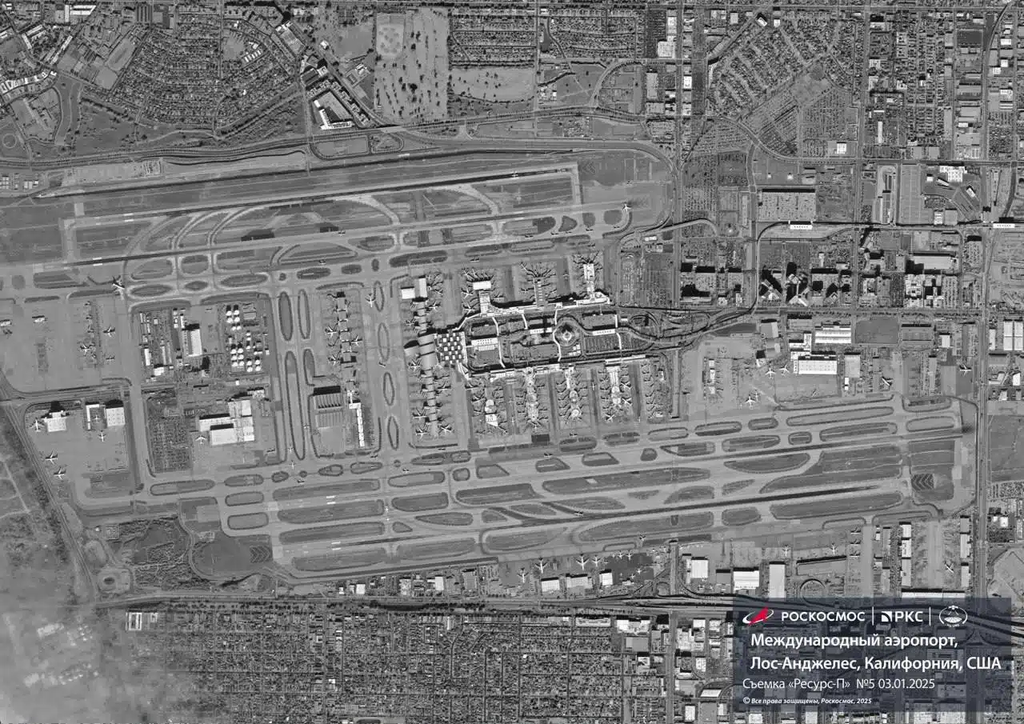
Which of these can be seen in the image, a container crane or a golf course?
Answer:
golf course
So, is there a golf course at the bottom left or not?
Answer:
No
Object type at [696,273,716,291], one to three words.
building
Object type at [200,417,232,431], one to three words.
hangar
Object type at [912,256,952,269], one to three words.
building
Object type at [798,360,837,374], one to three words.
hangar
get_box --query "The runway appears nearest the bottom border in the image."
[272,480,909,558]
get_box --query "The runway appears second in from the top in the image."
[34,198,641,273]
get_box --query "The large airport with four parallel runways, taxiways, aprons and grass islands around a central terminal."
[0,144,978,598]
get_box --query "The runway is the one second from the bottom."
[266,431,965,511]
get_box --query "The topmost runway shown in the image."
[67,164,579,228]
